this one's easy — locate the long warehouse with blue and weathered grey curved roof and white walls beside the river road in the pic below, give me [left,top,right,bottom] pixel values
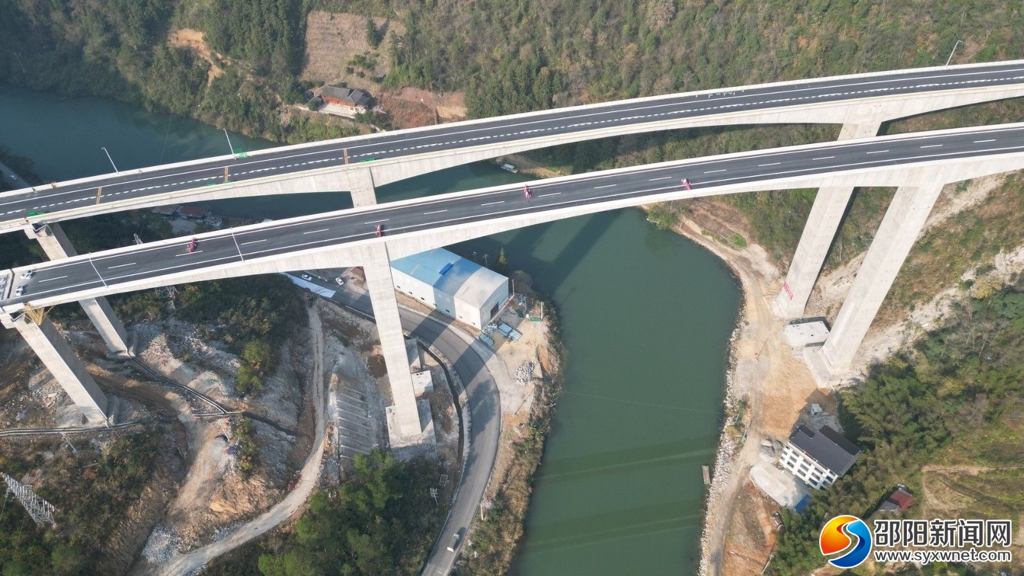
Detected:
[392,247,508,329]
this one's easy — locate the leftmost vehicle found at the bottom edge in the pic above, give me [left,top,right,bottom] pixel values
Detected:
[446,527,463,556]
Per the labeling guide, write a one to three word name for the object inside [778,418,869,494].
building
